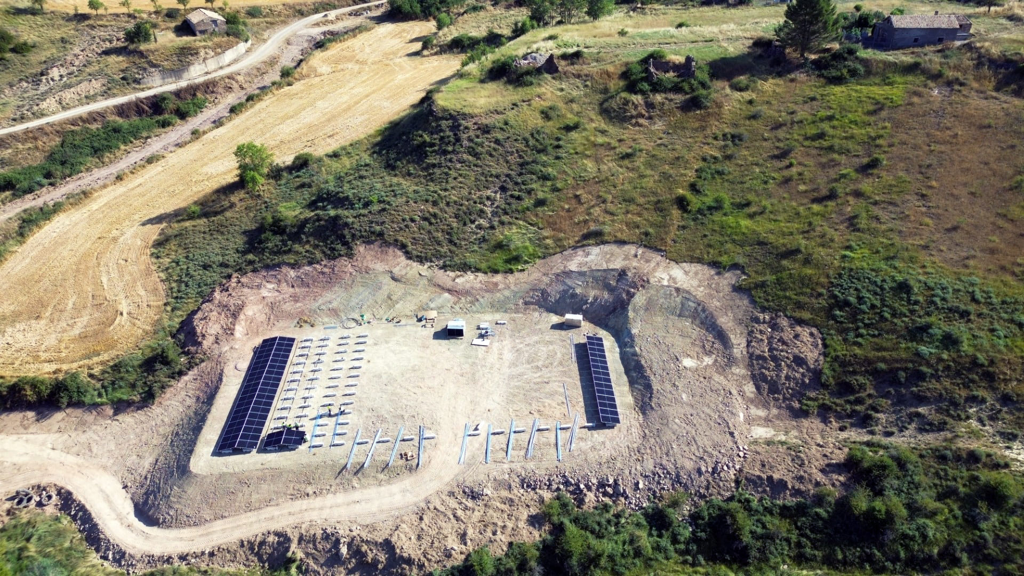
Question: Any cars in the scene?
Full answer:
No, the frame has no car in it.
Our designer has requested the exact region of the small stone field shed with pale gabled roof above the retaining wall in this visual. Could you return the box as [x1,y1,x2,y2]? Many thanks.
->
[186,8,230,40]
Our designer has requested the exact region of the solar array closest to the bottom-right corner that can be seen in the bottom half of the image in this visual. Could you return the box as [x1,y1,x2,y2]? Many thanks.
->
[586,334,621,427]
